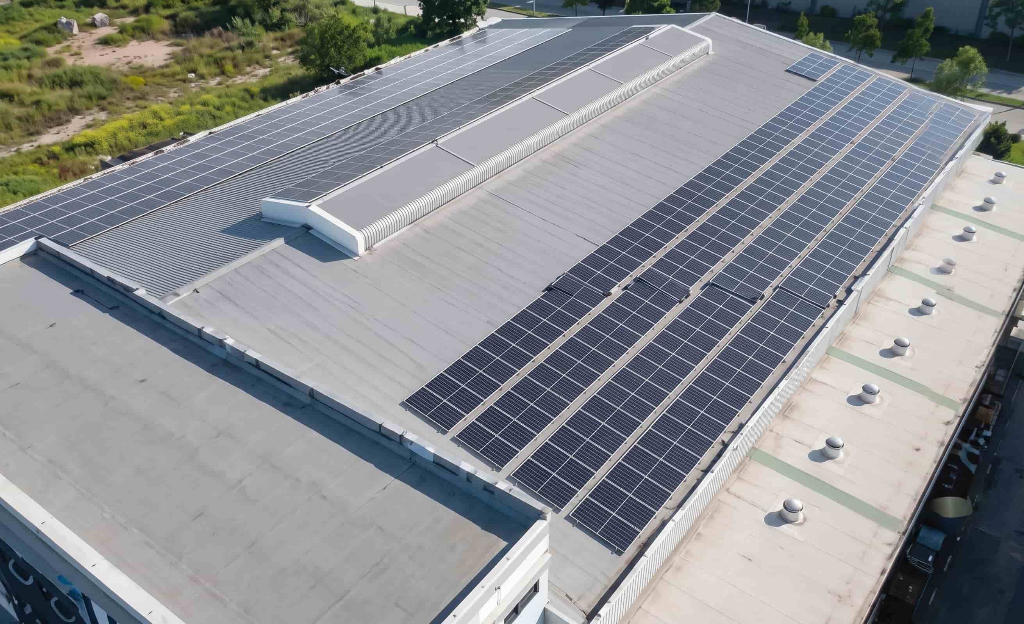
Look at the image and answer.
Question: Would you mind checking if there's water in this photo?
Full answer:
No, the picture contains no water.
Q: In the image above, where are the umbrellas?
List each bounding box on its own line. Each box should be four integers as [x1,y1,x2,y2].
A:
[930,495,970,527]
